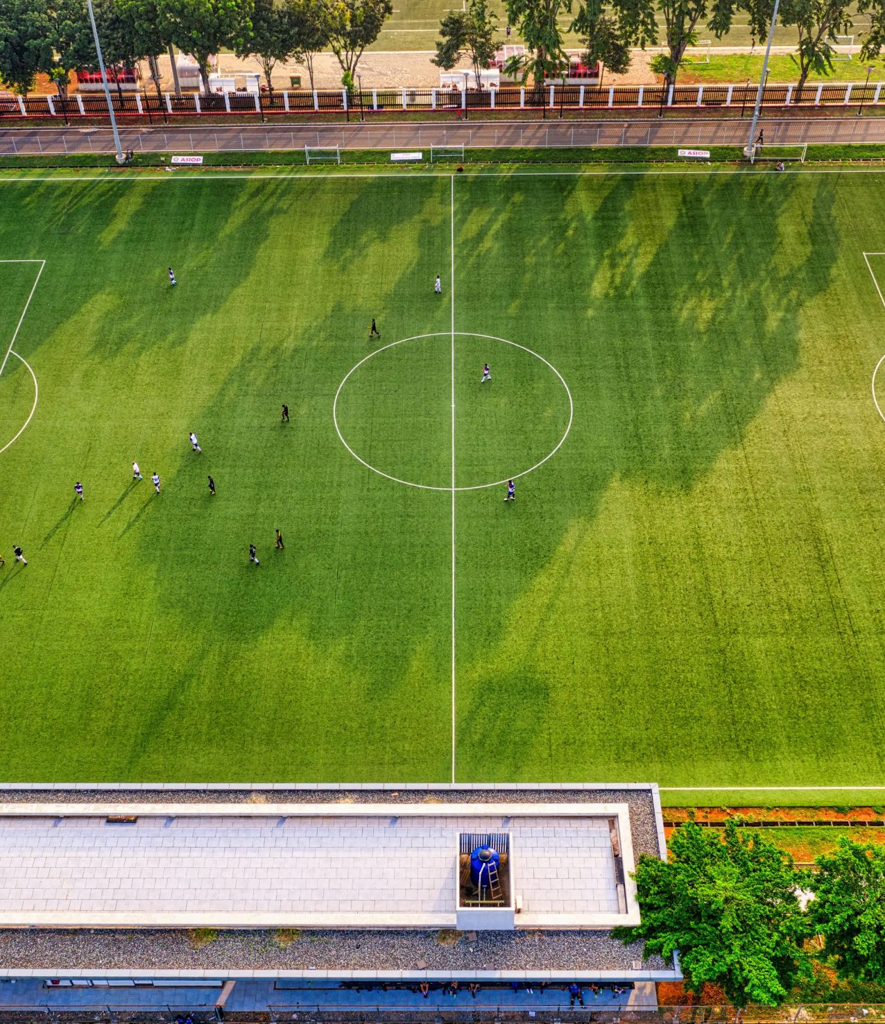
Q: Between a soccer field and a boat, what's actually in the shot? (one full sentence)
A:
Looking from above, you can make out a soccer field.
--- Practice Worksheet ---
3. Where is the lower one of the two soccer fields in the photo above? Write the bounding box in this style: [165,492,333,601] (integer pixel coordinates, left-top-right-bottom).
[0,164,885,807]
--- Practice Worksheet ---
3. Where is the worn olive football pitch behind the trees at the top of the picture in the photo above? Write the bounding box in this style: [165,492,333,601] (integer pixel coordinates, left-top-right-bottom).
[2,0,881,55]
